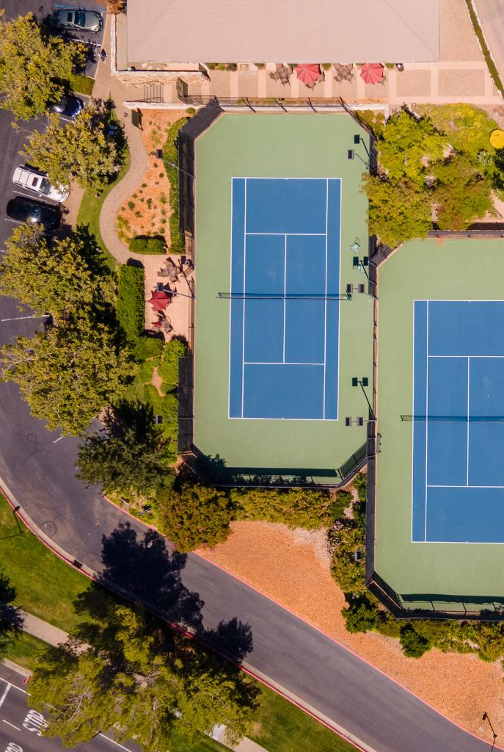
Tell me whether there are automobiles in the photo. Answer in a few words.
Yes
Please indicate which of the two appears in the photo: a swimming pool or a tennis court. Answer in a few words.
tennis court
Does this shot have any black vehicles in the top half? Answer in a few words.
Yes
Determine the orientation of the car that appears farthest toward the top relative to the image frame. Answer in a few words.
from left to right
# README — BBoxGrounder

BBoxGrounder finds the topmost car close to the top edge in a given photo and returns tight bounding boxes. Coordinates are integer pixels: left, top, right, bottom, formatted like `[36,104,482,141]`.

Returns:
[53,9,104,36]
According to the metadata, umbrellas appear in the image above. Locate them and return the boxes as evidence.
[296,62,321,87]
[361,62,385,85]
[152,290,174,312]
[154,318,170,330]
